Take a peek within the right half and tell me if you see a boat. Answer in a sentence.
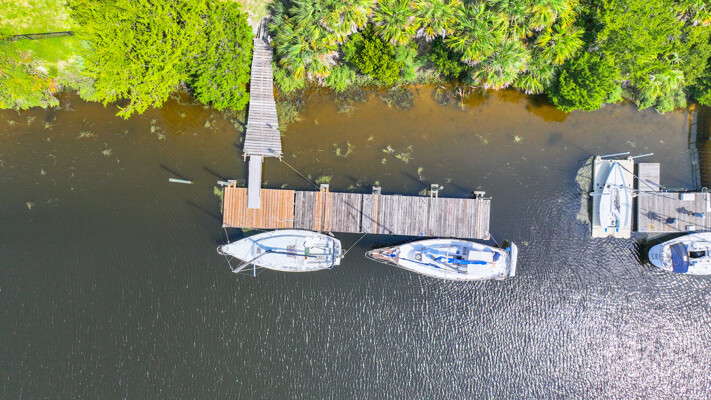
Yes, a boat shows up within the right half.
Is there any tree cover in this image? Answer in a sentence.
Yes, there's tree cover in this view.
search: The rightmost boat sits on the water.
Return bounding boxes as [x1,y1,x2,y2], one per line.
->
[644,231,711,276]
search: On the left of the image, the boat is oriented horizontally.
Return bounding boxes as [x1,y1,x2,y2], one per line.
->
[215,231,347,276]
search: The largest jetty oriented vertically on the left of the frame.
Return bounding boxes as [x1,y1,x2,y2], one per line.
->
[242,38,285,162]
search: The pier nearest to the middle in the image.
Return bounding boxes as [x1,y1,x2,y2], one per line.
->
[295,191,360,233]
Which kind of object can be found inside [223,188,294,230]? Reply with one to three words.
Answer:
pier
